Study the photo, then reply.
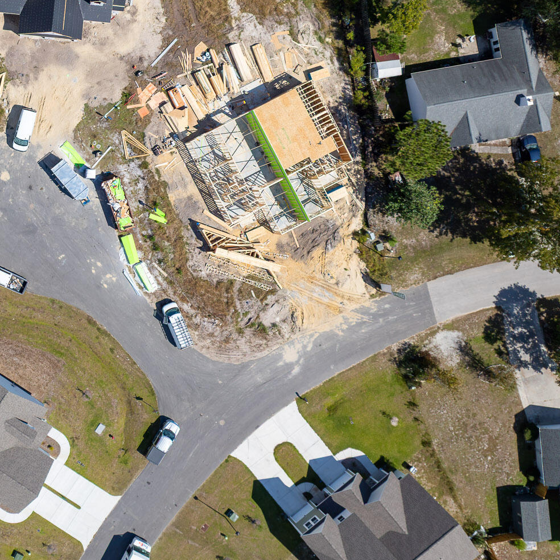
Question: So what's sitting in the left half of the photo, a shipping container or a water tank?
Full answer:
There is a shipping container in the left half of the photo.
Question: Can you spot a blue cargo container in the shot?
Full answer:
No, there is no blue cargo container in the image.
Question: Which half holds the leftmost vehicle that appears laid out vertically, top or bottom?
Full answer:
The top half of the photo is where the leftmost vehicle that appears laid out vertically is.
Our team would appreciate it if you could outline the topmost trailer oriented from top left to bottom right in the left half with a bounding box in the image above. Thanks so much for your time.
[41,151,89,201]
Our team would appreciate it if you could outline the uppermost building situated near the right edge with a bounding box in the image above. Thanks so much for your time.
[401,20,553,151]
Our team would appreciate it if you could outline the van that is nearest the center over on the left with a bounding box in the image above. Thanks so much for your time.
[162,300,196,351]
